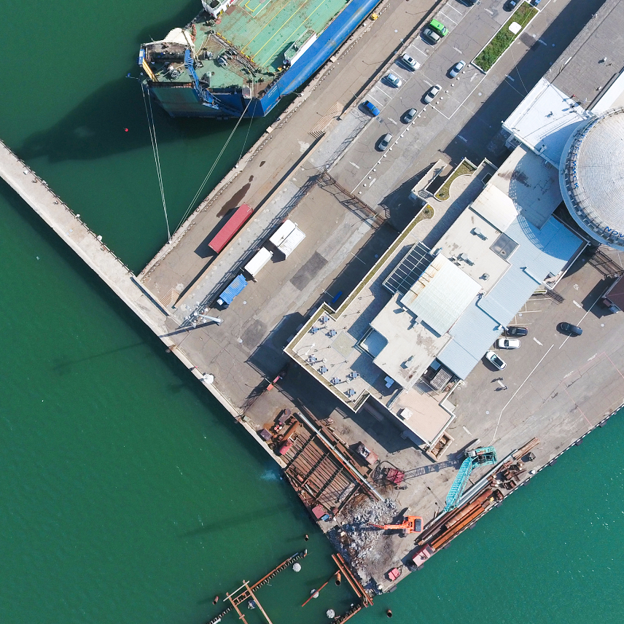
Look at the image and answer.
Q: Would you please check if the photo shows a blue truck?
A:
Yes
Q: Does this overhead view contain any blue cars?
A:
Yes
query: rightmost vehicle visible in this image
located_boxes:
[558,321,581,336]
